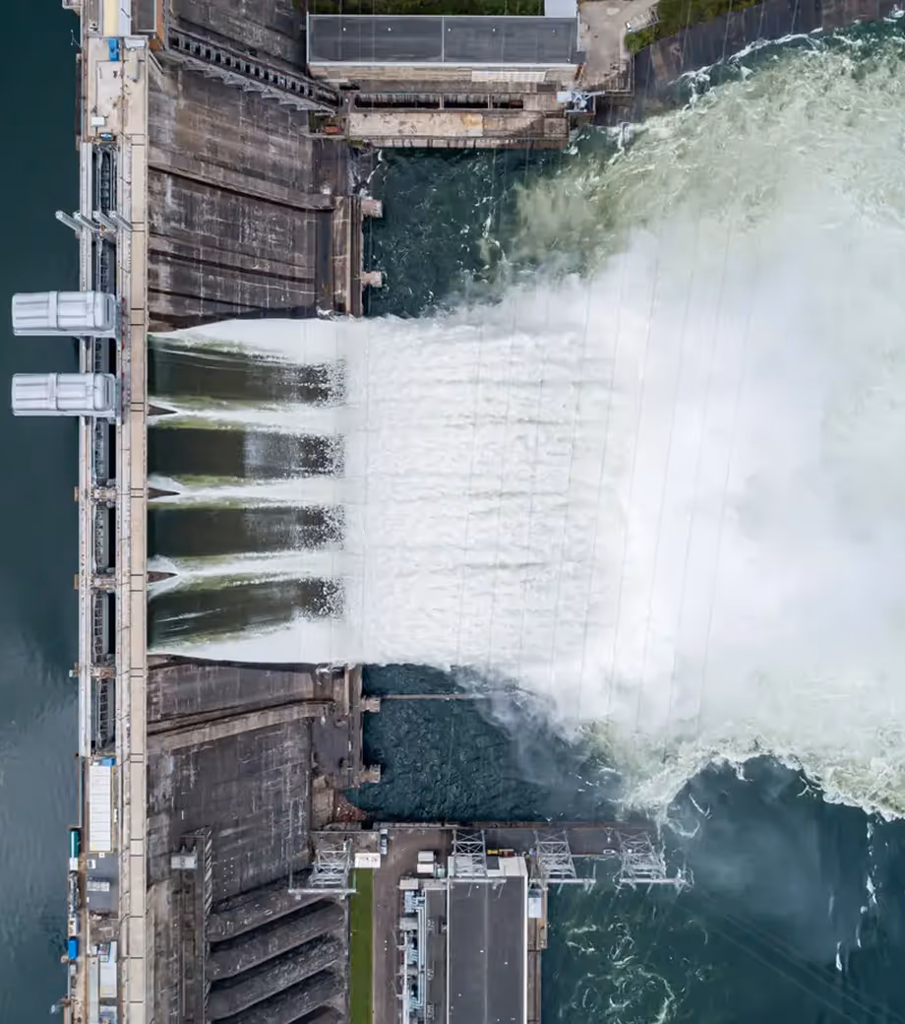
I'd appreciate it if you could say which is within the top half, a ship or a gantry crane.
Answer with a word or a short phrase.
gantry crane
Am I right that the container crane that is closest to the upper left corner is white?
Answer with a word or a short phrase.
Yes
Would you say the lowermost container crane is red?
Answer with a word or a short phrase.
No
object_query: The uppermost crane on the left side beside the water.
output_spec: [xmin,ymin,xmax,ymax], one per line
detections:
[11,291,127,351]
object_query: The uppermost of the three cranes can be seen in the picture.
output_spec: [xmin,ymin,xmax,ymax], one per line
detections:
[557,91,604,125]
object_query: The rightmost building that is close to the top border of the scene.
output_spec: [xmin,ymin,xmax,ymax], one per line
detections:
[309,0,579,84]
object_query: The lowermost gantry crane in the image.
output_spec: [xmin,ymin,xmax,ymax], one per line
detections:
[11,370,127,428]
